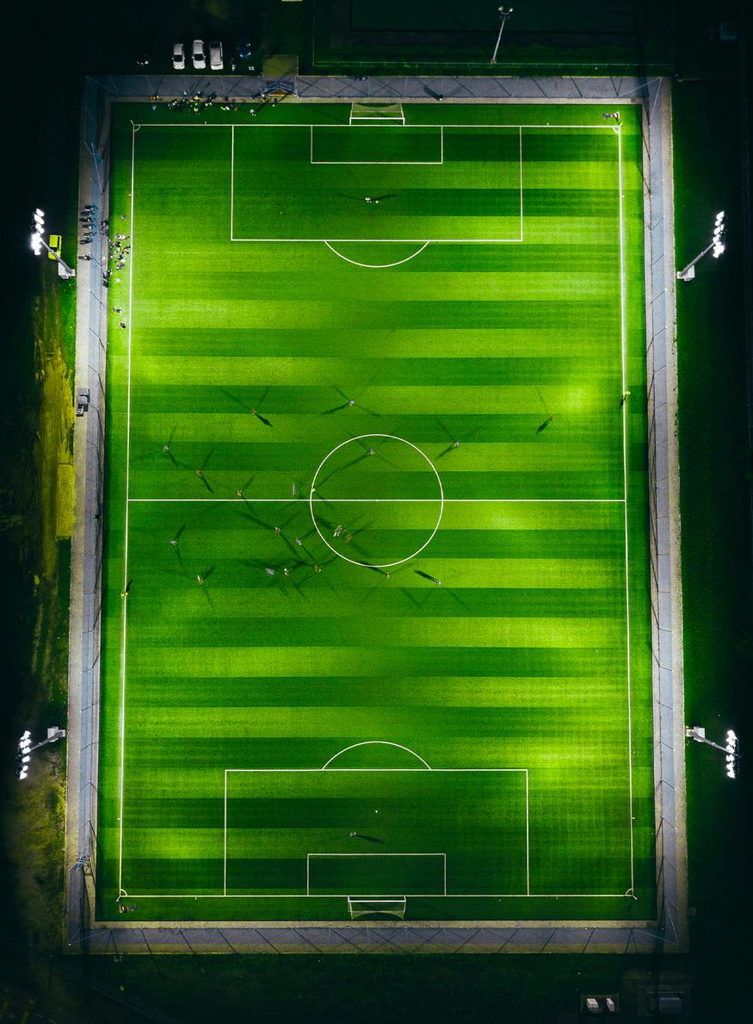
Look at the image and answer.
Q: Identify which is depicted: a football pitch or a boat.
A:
football pitch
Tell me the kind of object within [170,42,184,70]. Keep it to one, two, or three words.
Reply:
car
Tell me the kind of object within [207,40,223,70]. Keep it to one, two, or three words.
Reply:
car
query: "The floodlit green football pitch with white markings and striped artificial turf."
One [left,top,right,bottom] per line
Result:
[95,102,658,922]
